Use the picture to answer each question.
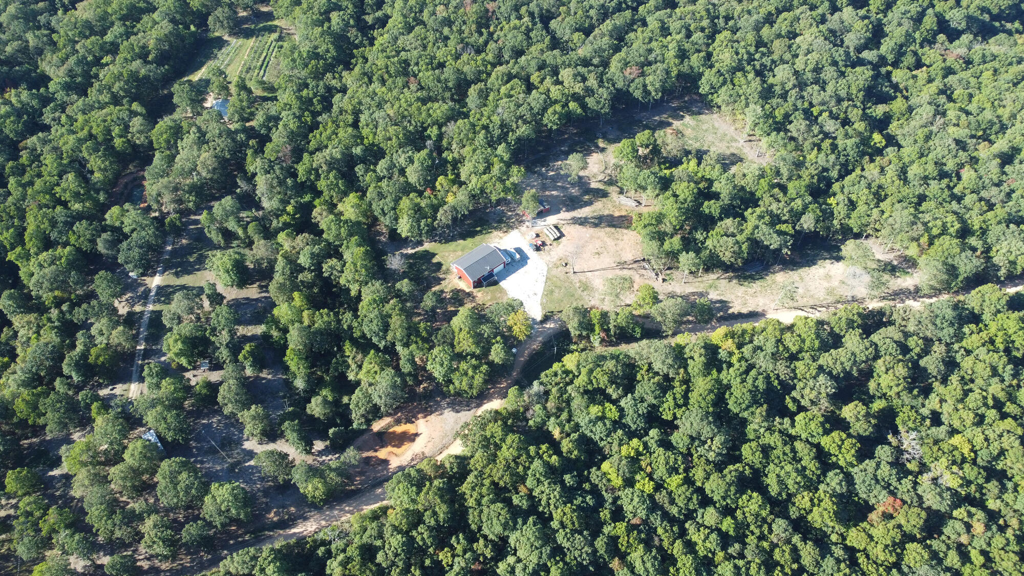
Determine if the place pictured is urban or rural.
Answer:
rural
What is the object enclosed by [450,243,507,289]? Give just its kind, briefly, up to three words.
building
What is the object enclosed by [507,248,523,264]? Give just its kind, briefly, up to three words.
vehicle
